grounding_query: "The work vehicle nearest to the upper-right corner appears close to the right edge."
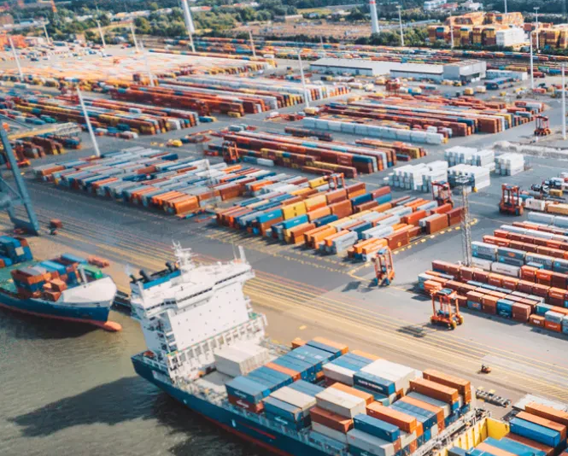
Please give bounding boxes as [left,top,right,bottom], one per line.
[532,115,551,136]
